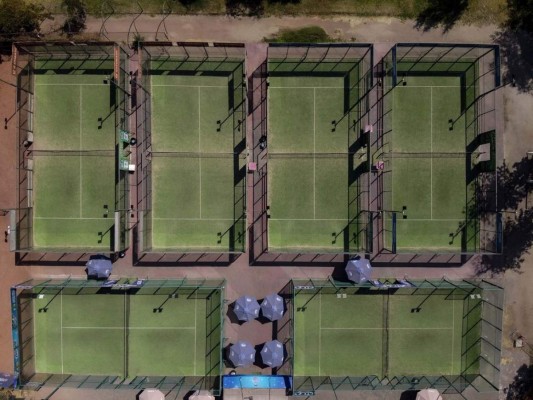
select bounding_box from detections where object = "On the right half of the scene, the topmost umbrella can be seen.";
[344,256,372,284]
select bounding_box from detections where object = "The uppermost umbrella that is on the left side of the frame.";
[86,255,112,281]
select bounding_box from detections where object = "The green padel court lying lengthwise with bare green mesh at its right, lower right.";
[289,279,484,378]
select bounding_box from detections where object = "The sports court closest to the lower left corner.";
[31,279,225,378]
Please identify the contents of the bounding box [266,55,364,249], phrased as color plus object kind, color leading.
green sports court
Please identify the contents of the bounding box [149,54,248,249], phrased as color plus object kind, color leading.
green sports court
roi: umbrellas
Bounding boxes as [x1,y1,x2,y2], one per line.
[233,294,259,321]
[228,340,255,368]
[138,389,164,400]
[416,389,442,400]
[260,339,286,365]
[259,292,285,318]
[189,390,214,400]
[86,255,112,281]
[344,256,372,284]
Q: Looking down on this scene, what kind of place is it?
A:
sports ground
